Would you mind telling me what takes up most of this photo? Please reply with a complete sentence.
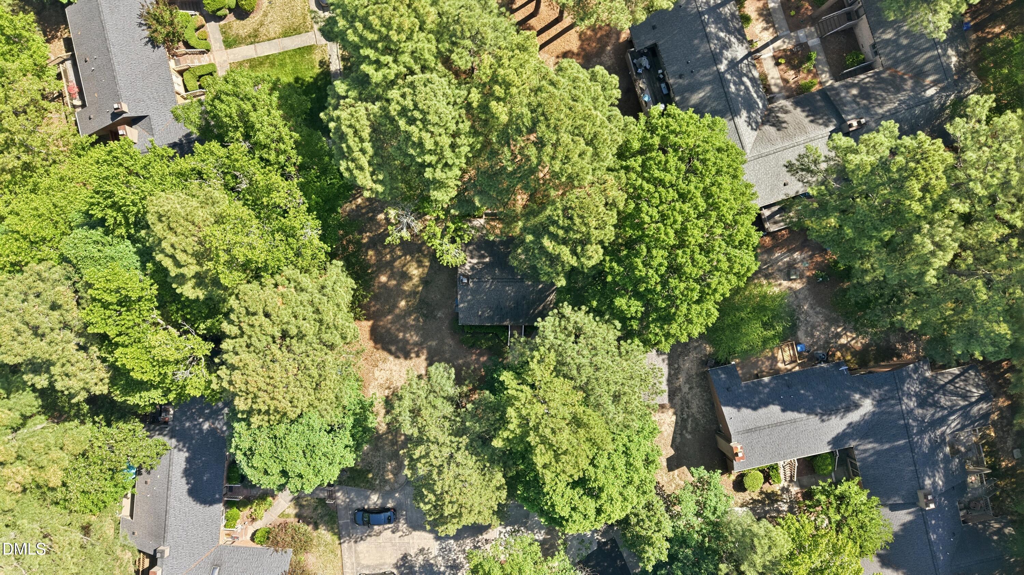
What you mostly see from above here is trees.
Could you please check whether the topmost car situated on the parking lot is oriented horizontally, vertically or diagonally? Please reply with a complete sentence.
I'd say the topmost car situated on the parking lot is aligned horizontally in the picture.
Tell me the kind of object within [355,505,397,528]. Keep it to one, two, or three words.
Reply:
car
